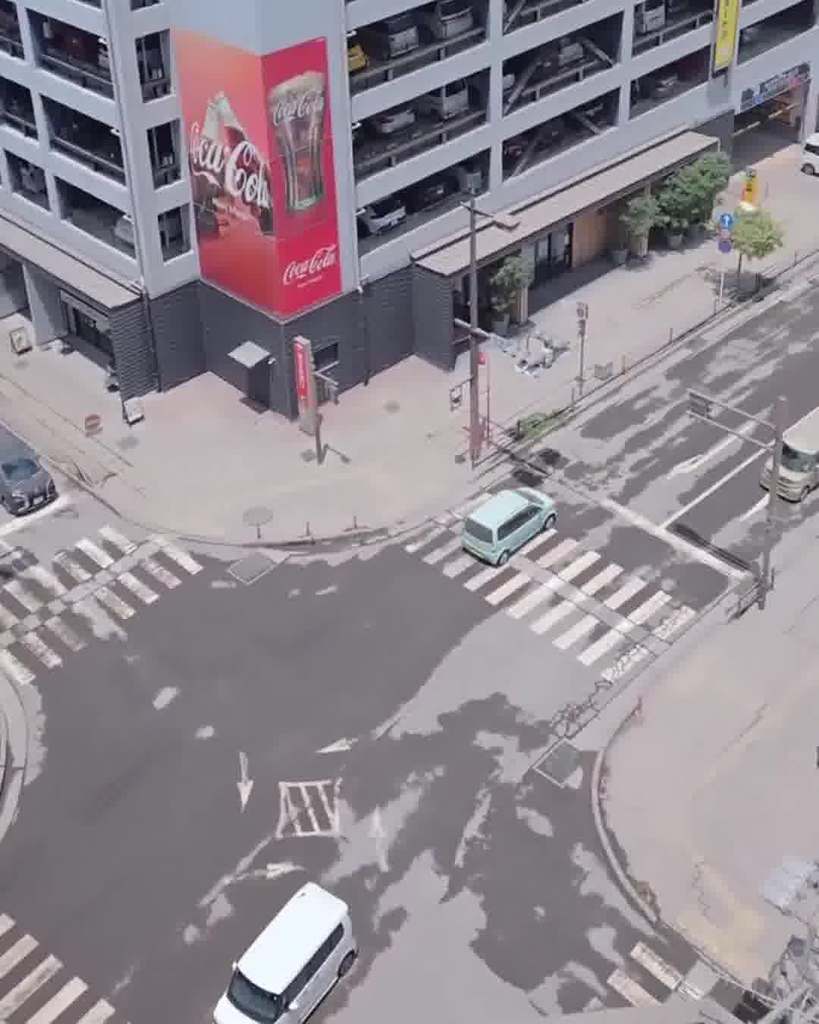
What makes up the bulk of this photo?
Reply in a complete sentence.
The scene is dominated by paved ground.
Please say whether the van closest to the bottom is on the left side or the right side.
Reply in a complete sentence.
The van closest to the bottom is on the left side of the image.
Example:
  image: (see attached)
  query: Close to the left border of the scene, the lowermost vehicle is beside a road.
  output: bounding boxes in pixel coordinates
[0,419,54,509]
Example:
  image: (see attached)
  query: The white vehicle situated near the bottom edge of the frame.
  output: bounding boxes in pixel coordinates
[218,889,353,1024]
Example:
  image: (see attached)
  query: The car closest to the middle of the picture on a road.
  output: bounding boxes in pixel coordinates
[462,484,557,564]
